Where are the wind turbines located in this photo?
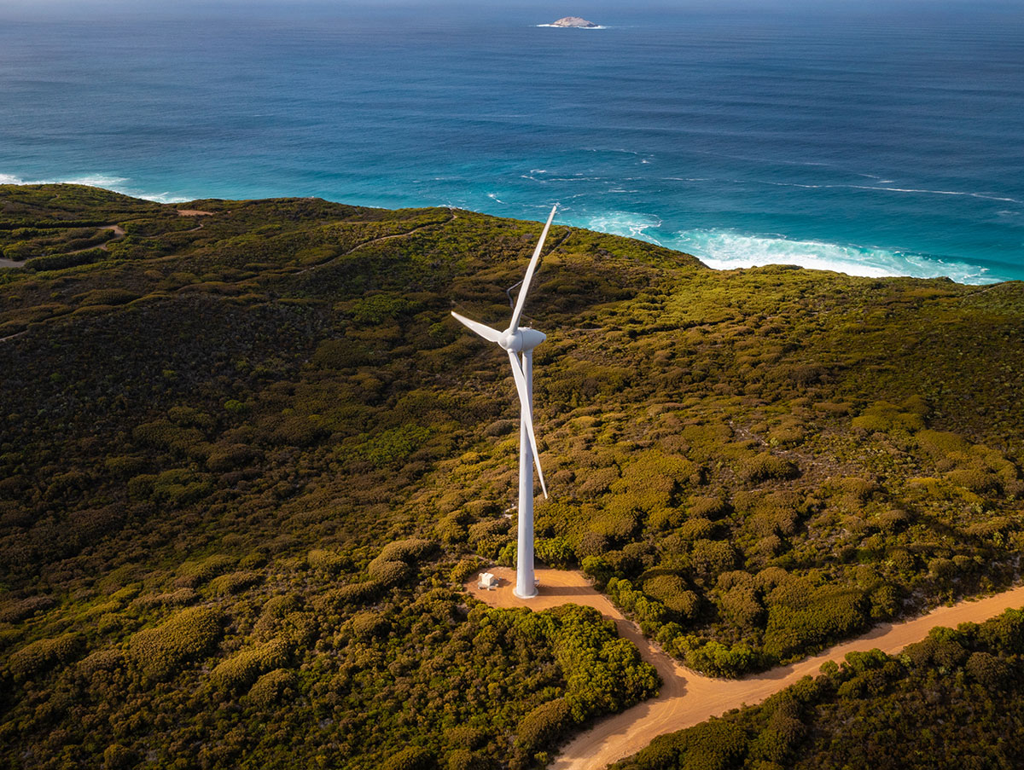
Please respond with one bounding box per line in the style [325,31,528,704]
[451,202,552,597]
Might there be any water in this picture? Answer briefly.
Yes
